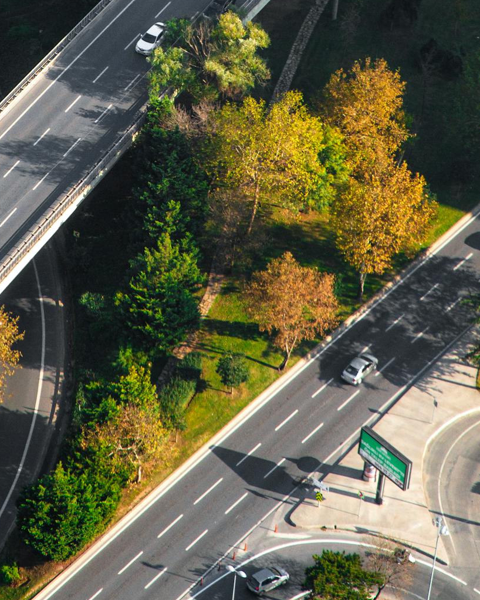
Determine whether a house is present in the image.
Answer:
No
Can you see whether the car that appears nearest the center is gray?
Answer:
Yes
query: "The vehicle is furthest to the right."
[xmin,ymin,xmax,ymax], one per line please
[340,353,381,386]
